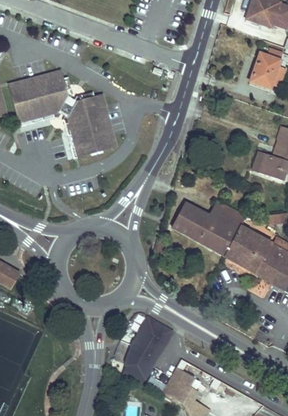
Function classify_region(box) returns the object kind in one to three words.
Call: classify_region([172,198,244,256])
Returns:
house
